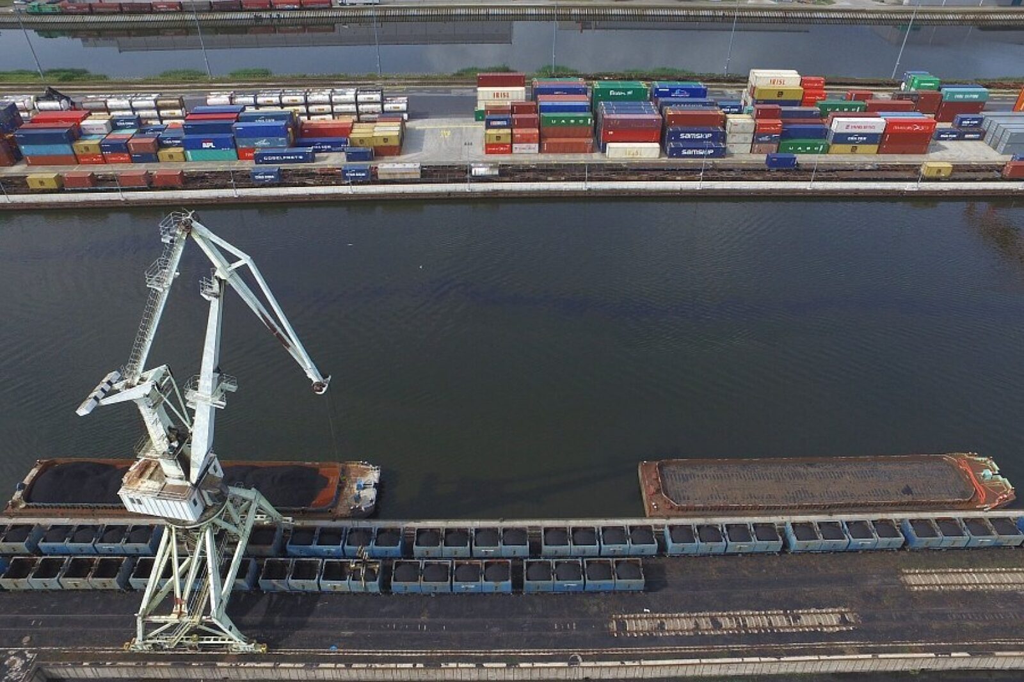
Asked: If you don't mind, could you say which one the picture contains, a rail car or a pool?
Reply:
rail car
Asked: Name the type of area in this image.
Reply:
port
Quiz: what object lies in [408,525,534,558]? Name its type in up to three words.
rail car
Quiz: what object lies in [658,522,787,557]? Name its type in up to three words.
rail car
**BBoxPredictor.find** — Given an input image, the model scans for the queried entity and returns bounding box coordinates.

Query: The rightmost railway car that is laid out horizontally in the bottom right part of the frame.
[900,520,1024,555]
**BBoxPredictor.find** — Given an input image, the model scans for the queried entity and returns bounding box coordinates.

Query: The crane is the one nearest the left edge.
[75,205,362,652]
